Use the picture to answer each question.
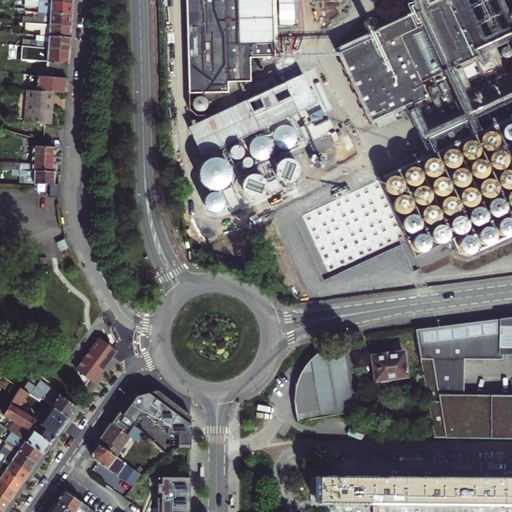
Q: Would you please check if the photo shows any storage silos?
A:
Yes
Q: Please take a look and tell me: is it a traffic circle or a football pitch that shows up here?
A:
traffic circle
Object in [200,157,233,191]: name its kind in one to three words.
storage tank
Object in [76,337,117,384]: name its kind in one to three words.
house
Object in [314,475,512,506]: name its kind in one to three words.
building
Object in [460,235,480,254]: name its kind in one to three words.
silo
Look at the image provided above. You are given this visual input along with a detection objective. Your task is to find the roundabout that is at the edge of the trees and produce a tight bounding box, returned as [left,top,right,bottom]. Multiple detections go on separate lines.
[151,274,277,400]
